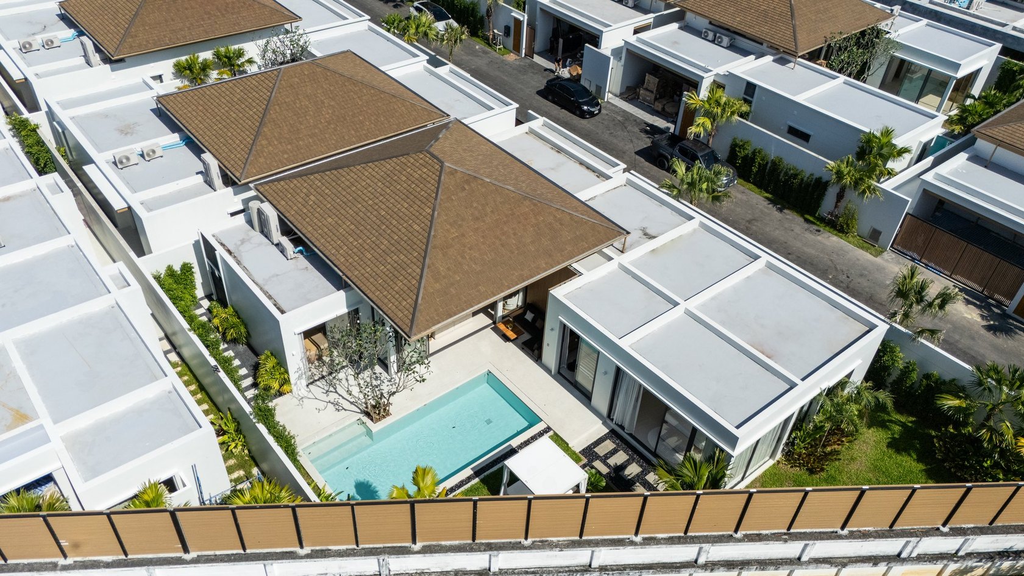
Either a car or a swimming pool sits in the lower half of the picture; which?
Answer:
swimming pool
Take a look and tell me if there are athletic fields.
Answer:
No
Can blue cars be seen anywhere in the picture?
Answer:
No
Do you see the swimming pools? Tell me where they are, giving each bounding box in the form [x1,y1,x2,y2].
[302,371,542,504]
[930,135,958,158]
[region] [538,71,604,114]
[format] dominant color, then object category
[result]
black car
